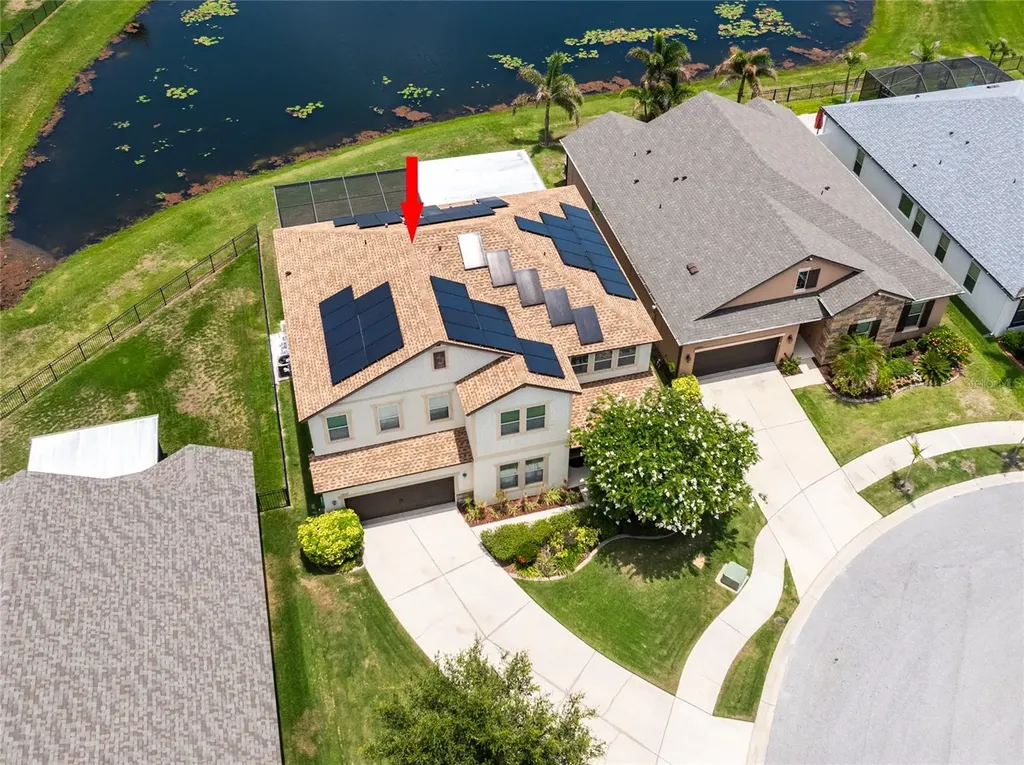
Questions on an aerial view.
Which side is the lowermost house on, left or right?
left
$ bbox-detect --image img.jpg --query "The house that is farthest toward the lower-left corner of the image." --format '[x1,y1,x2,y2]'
[0,412,280,765]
